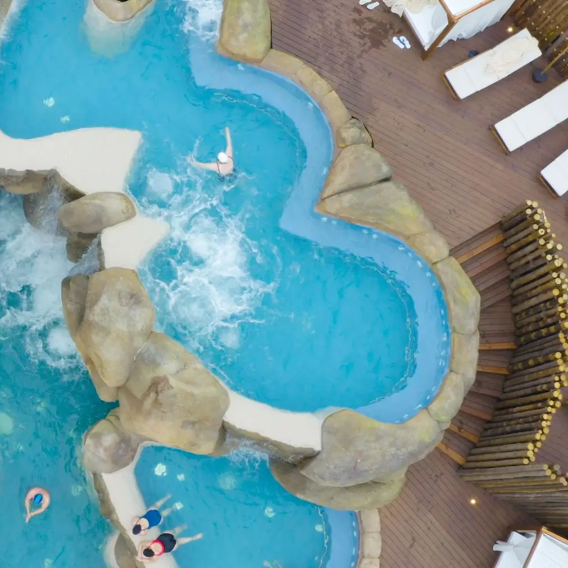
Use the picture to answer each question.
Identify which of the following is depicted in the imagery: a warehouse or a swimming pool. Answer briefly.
swimming pool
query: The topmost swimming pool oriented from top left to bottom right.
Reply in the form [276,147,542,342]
[0,0,446,423]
